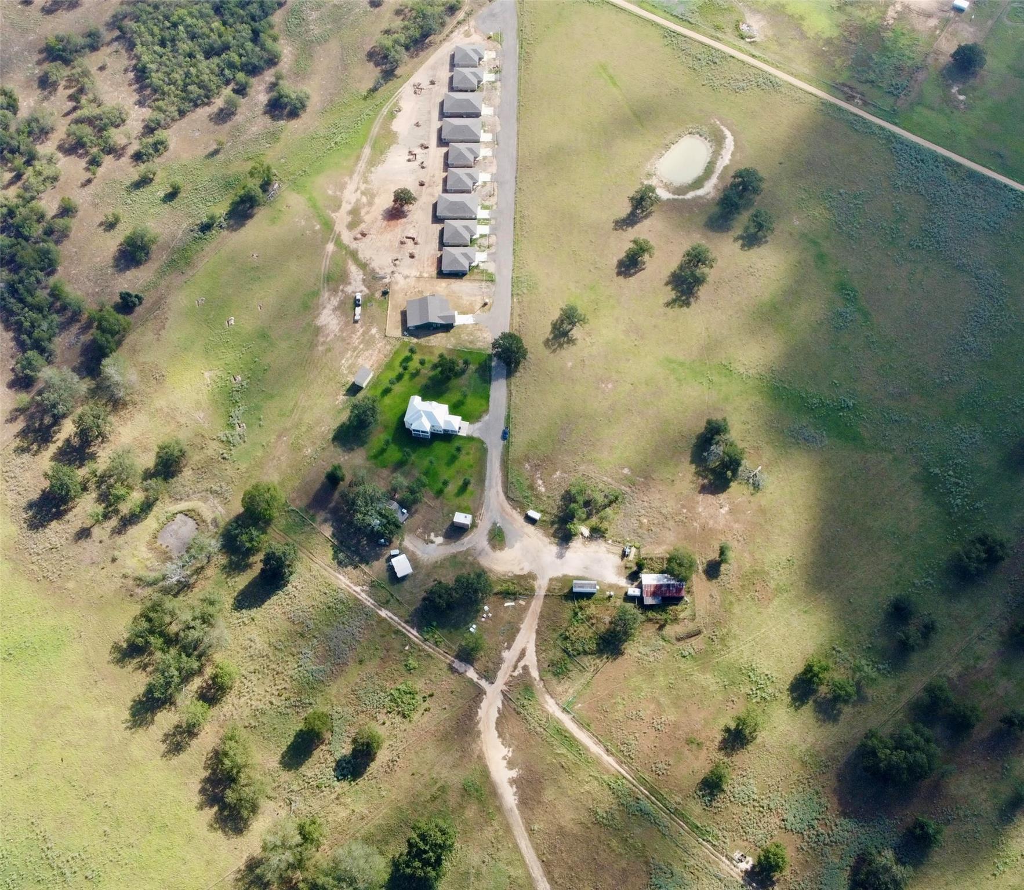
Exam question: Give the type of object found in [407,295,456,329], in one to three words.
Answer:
house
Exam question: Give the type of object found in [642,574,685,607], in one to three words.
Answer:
barn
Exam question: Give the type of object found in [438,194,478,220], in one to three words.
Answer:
house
